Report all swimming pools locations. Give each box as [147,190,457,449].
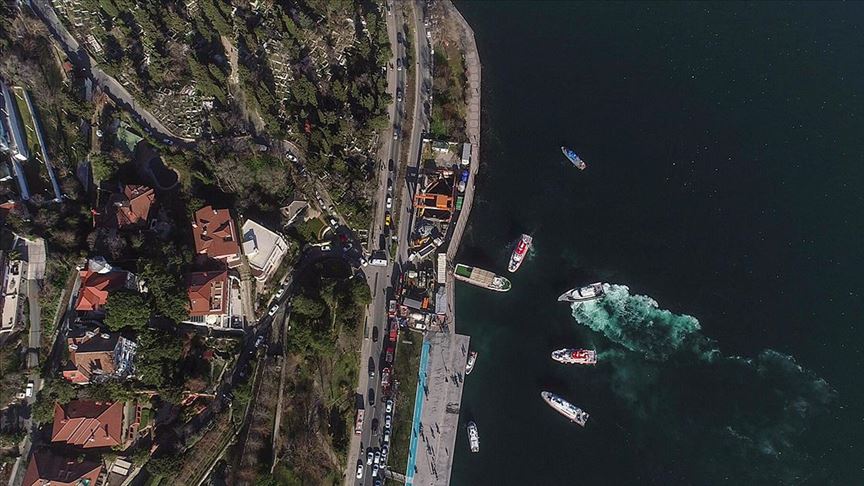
[148,155,184,192]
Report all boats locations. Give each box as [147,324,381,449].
[553,349,597,364]
[467,423,480,453]
[543,394,590,425]
[456,263,512,290]
[510,234,532,272]
[559,283,607,300]
[467,352,478,375]
[562,146,587,170]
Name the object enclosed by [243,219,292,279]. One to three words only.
house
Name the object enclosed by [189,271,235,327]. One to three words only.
house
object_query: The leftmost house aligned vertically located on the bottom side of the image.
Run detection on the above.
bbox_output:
[0,260,33,332]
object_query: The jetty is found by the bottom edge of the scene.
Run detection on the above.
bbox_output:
[405,334,471,486]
